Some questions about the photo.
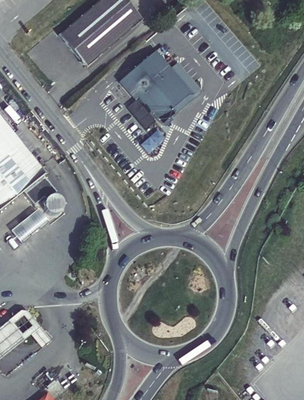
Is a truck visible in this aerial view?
Yes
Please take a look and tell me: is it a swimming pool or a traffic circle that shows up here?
traffic circle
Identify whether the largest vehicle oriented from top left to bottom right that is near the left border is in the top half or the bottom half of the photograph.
top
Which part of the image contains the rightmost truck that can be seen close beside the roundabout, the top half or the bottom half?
bottom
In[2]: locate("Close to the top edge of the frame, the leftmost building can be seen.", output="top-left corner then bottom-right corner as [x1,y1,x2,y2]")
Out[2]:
[59,0,142,64]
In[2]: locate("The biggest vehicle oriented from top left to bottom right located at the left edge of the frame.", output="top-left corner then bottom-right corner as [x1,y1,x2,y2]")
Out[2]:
[4,106,24,127]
